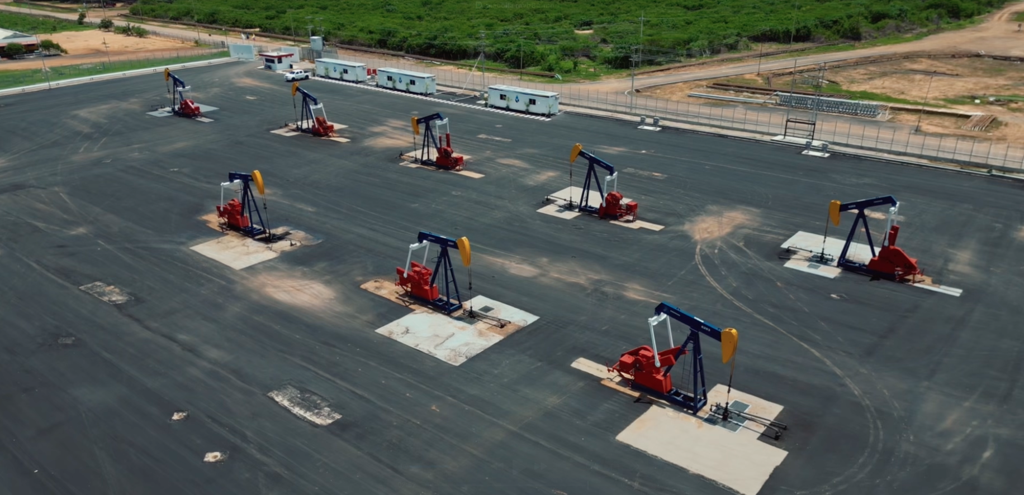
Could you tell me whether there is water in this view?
No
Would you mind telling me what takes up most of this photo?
paved ground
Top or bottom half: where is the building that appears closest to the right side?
top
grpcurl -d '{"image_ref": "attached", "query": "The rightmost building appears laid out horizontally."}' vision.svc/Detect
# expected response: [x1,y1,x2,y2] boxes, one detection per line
[486,85,559,115]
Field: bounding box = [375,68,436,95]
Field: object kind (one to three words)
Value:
building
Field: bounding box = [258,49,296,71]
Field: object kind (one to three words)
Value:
building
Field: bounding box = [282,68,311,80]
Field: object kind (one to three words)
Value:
vehicle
